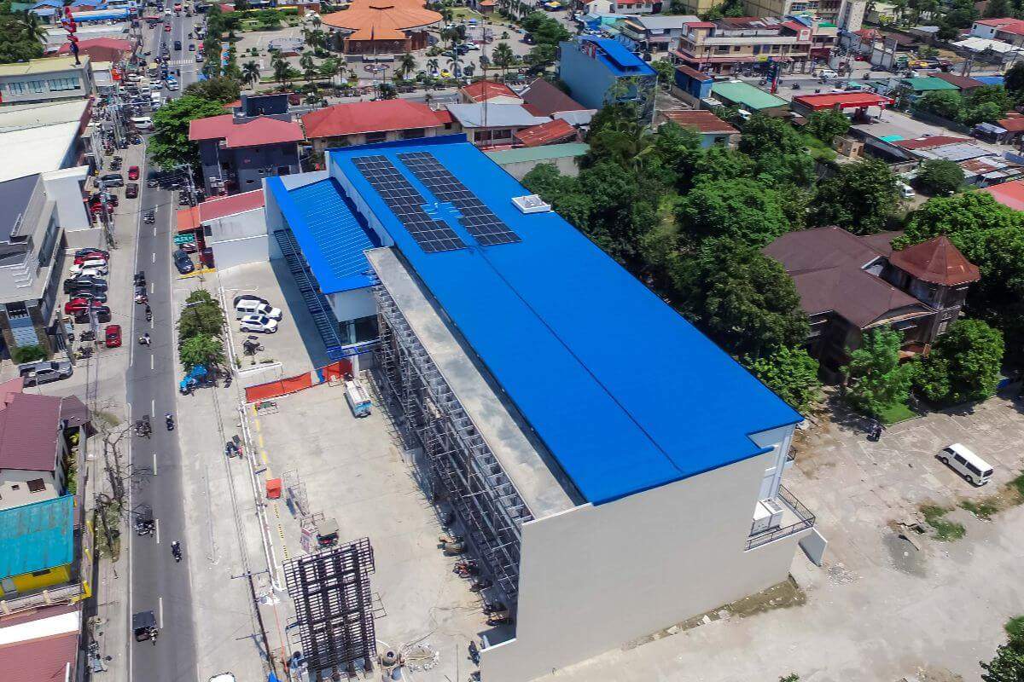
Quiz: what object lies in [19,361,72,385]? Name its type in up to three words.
truck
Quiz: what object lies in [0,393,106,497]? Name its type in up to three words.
house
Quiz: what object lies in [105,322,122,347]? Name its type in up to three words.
car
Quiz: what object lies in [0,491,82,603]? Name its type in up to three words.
house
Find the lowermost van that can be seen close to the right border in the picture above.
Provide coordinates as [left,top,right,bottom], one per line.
[936,448,994,485]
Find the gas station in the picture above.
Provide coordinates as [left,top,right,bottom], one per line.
[789,88,894,133]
